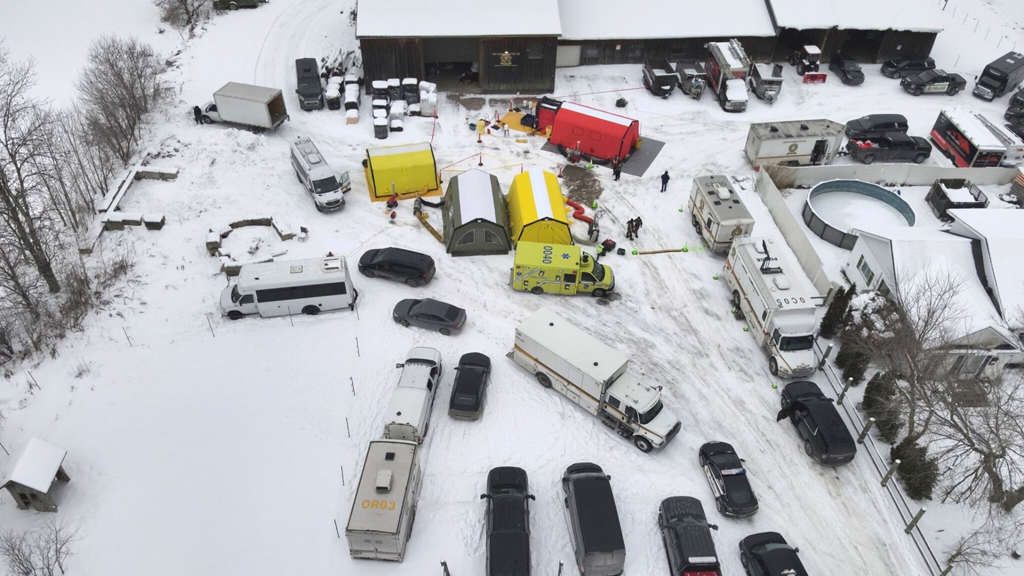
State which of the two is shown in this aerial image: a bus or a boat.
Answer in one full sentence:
I can see a bus in this picture.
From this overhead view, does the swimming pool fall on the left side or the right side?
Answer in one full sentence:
You can find the swimming pool on the right side of the picture.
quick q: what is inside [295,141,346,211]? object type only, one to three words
van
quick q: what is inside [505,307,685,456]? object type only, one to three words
truck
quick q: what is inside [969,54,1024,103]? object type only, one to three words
bus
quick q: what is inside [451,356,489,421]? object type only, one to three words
car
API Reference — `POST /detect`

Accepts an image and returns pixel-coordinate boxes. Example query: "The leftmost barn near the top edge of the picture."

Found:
[349,0,565,94]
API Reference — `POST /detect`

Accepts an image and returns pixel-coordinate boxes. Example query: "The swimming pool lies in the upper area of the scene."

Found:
[802,178,923,249]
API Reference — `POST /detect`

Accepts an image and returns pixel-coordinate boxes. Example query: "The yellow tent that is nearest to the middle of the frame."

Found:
[505,166,577,248]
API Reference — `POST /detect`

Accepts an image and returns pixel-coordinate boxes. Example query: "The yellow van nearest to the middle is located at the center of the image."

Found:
[509,243,615,296]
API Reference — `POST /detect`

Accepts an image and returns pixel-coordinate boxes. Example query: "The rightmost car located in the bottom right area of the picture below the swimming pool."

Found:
[780,385,854,463]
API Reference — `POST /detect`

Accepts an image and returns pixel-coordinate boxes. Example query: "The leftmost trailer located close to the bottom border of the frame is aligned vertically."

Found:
[350,443,421,565]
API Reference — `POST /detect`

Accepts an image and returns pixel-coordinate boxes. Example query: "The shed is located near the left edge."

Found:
[0,442,75,513]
